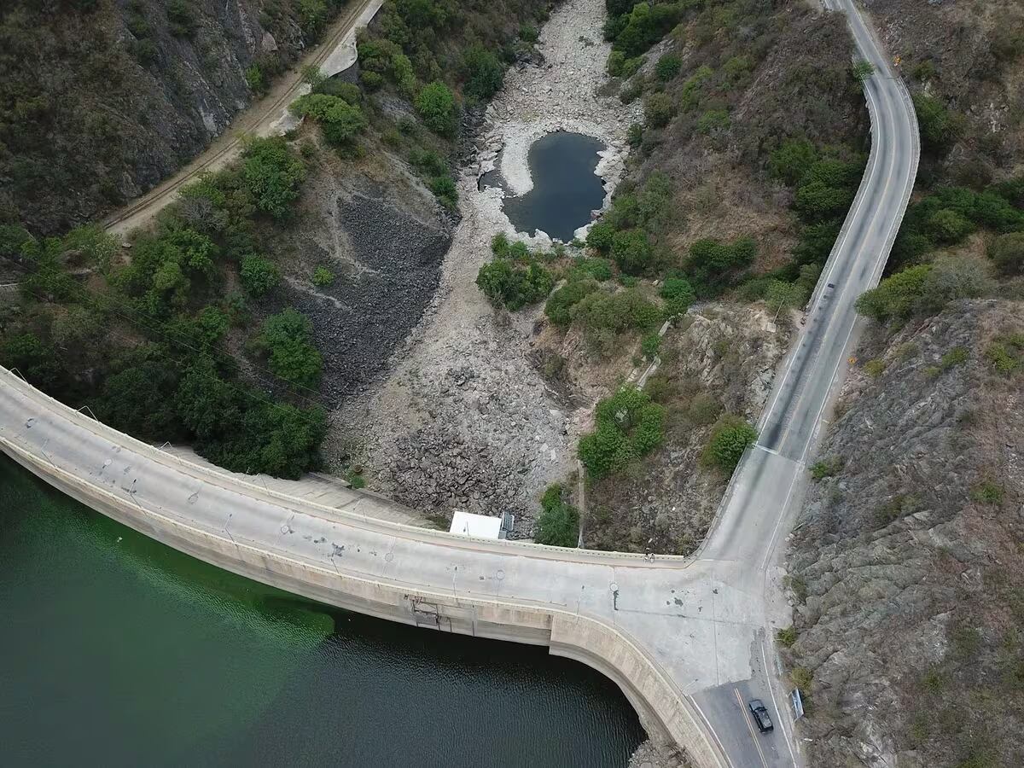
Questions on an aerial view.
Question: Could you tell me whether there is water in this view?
Yes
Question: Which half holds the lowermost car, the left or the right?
right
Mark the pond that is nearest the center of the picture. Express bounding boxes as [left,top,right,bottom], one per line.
[479,132,606,243]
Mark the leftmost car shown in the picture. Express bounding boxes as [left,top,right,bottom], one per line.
[749,698,774,737]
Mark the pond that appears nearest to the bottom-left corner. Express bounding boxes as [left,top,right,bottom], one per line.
[0,451,657,768]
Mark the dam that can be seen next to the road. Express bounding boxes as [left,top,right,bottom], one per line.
[0,348,775,768]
